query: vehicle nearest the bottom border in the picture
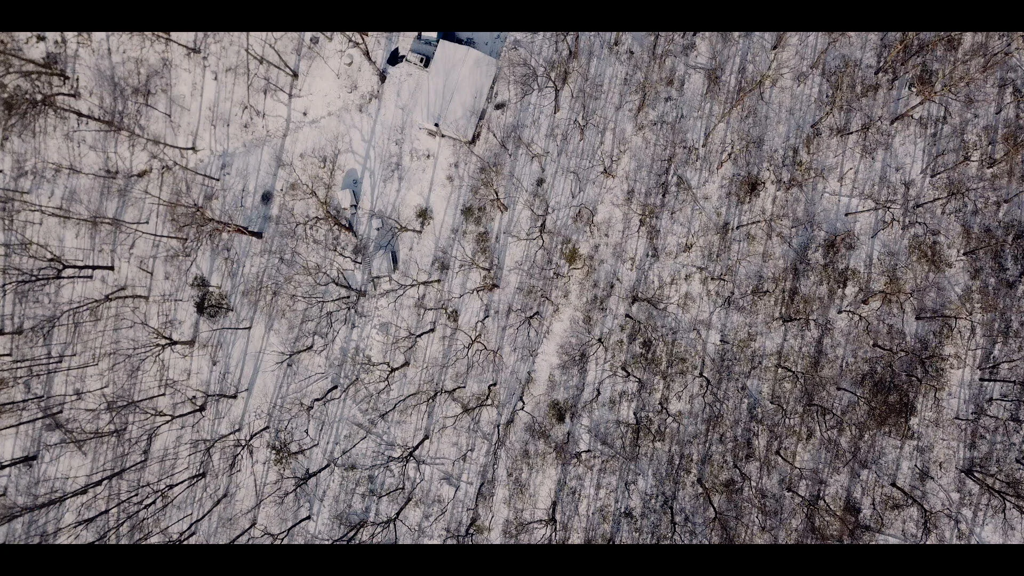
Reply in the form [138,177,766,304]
[405,49,434,70]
